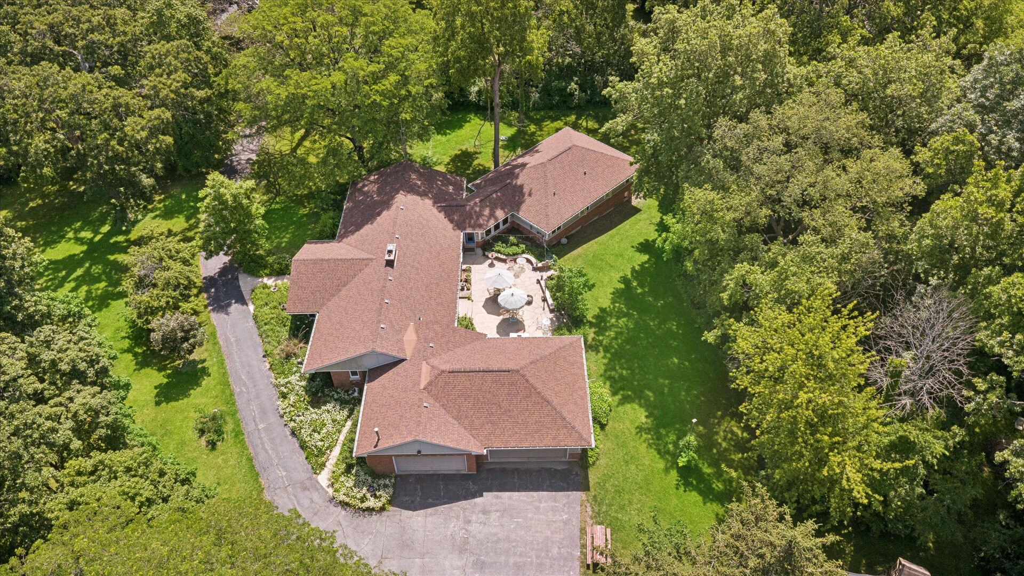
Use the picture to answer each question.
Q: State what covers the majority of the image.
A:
trees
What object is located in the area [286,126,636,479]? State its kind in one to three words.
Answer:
house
